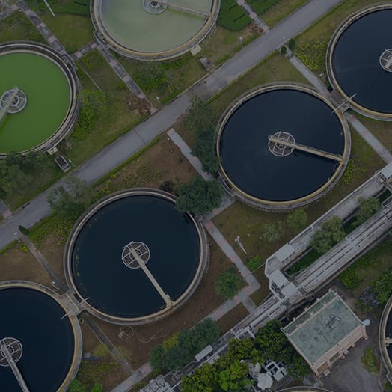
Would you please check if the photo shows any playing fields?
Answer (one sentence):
No, the picture doesn't show any playing field.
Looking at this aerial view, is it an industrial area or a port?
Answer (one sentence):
The area seen from above is an industrial area.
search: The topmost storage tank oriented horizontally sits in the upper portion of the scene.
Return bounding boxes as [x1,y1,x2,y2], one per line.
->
[91,0,221,62]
